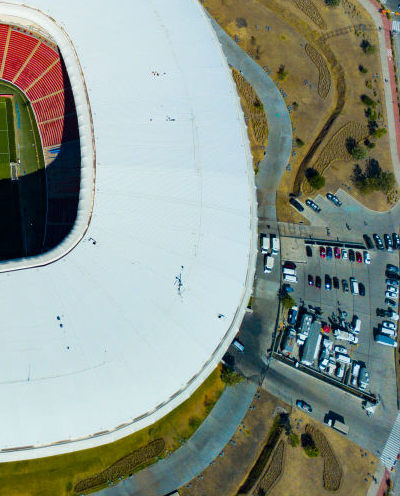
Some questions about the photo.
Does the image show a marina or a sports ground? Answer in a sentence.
The picture captures a sports ground.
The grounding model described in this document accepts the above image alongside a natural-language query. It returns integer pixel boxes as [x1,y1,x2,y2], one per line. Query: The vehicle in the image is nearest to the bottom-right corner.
[325,417,351,433]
